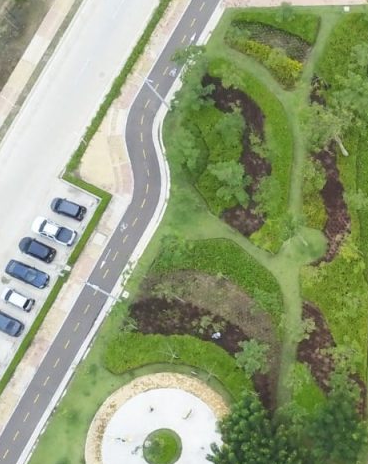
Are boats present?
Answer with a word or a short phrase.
No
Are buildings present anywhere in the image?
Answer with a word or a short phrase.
No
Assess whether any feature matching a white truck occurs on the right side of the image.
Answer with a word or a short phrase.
No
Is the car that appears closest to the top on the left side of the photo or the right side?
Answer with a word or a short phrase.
left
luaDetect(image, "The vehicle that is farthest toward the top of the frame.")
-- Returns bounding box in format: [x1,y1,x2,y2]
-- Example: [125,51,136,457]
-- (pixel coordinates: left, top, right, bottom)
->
[51,198,89,222]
